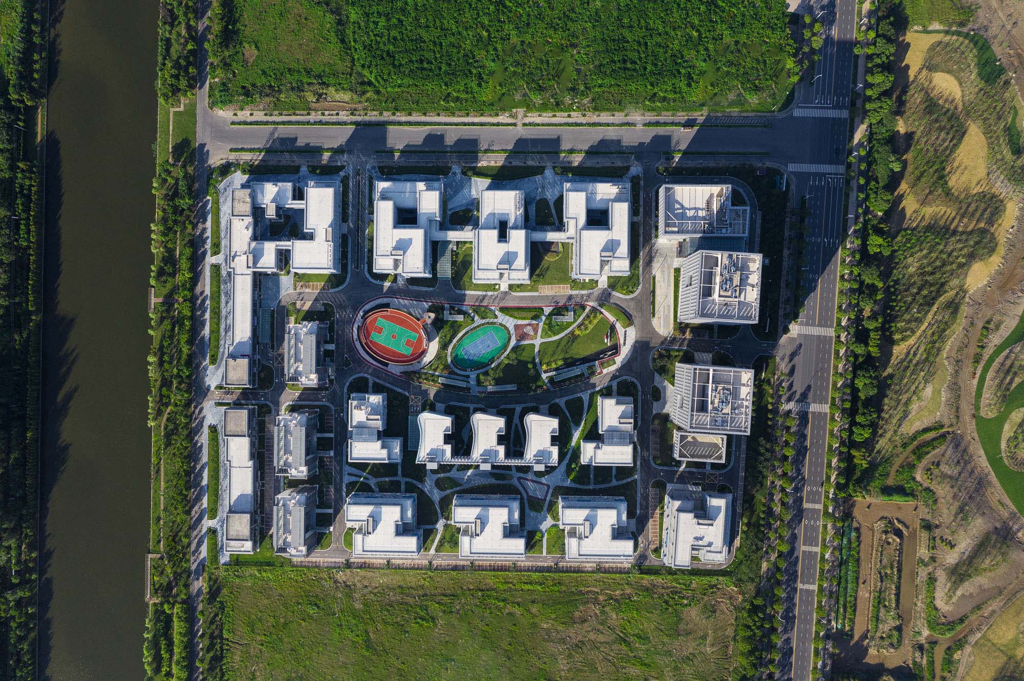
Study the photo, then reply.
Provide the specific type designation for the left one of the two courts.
basketball court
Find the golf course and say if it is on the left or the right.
right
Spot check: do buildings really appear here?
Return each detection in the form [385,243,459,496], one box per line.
[224,407,262,554]
[658,184,750,240]
[284,321,338,388]
[273,488,326,560]
[468,409,505,470]
[677,250,762,326]
[659,486,727,569]
[561,498,635,563]
[563,182,631,280]
[348,392,406,463]
[345,494,423,558]
[521,410,558,471]
[415,409,454,469]
[291,180,344,275]
[274,411,327,480]
[225,188,261,387]
[670,363,754,435]
[453,496,528,561]
[580,394,634,467]
[373,180,445,278]
[472,189,531,285]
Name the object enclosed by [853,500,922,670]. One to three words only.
pond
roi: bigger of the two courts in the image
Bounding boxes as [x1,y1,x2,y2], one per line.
[357,309,427,365]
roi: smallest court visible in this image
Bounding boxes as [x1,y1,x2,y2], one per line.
[453,324,508,369]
